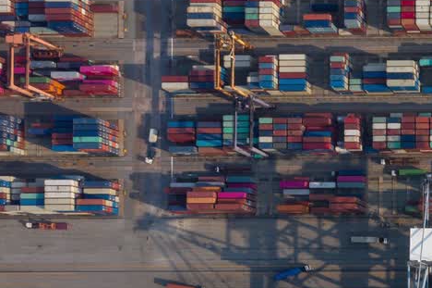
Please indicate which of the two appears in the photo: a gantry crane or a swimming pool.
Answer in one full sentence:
Of the two, only a gantry crane appears.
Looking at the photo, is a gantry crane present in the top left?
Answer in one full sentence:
Yes, a gantry crane appears in the top left.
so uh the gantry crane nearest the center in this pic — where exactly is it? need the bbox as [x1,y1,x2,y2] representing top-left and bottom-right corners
[230,91,273,162]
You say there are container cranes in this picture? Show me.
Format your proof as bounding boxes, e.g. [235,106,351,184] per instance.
[3,30,58,103]
[407,171,432,288]
[230,91,273,162]
[213,29,254,102]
